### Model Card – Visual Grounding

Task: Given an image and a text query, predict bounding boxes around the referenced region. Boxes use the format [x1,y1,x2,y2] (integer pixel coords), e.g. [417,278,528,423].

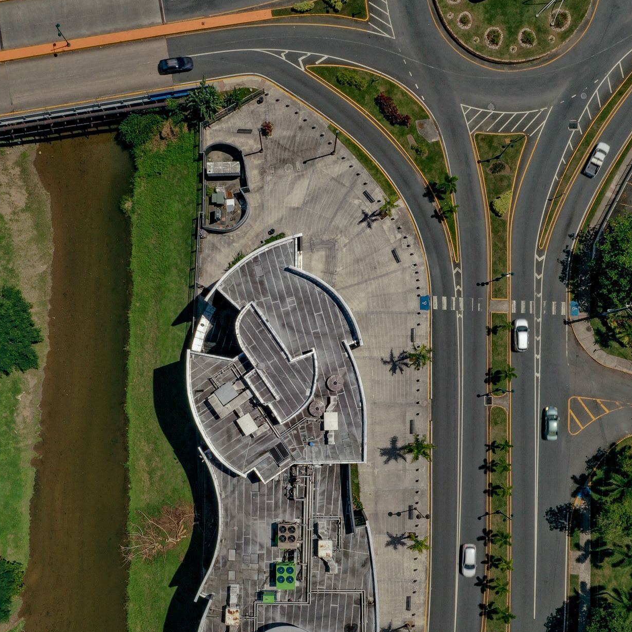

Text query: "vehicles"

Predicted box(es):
[512,320,530,352]
[158,57,195,78]
[543,407,560,440]
[581,141,609,182]
[461,543,477,576]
